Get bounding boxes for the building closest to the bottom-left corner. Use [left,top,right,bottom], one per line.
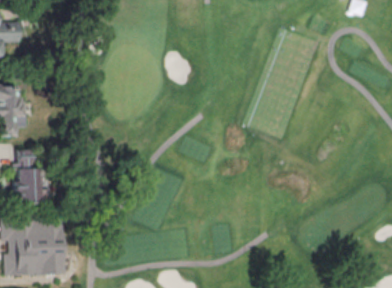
[0,220,66,276]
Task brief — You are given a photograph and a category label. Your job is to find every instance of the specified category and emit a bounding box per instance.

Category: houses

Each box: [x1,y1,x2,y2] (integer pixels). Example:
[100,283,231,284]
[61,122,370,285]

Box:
[0,220,66,276]
[0,12,22,59]
[0,83,27,136]
[16,150,44,204]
